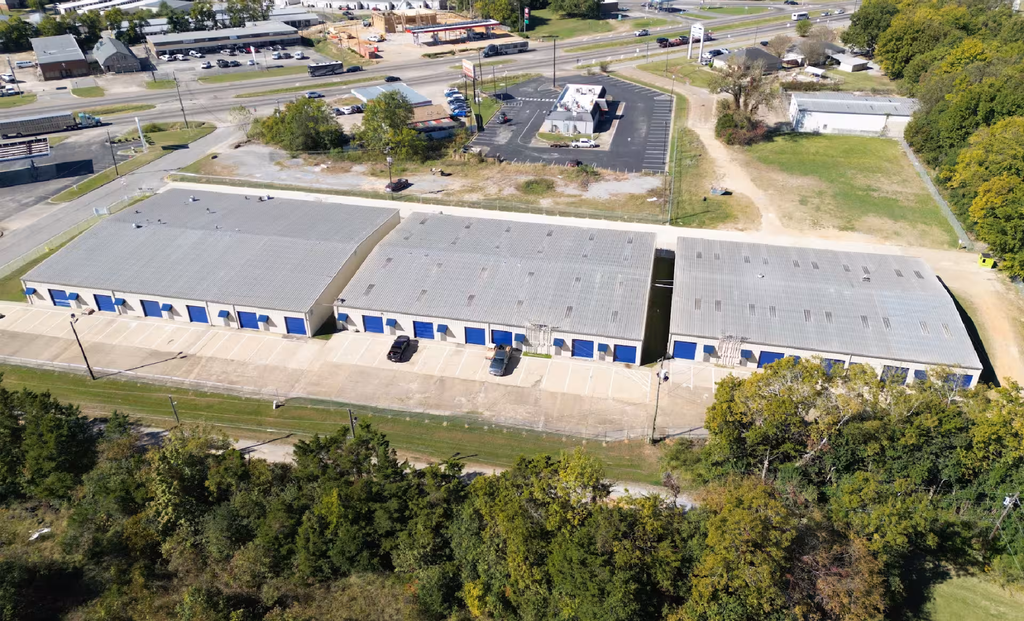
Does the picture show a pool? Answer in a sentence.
No, there's no pool here.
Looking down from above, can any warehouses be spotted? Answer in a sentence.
Yes, there is a warehouse in the image.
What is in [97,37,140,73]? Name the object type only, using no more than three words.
barn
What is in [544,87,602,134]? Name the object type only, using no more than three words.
building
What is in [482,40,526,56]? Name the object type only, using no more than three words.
vehicle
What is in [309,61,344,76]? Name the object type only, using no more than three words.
camper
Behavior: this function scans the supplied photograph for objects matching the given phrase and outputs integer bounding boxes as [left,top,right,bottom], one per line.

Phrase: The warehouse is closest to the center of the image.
[330,211,658,364]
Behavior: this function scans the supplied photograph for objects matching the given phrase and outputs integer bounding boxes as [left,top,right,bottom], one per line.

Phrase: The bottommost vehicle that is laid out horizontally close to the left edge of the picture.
[0,114,102,137]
